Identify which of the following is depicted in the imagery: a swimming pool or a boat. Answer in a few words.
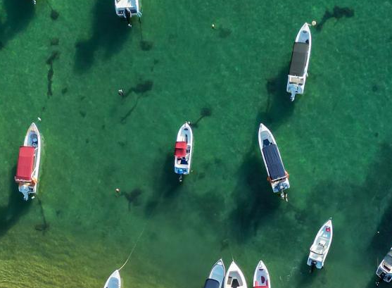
boat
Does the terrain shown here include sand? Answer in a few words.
Yes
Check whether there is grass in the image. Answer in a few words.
No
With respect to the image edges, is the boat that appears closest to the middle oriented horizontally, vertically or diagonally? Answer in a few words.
vertically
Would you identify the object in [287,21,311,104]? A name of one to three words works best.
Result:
boat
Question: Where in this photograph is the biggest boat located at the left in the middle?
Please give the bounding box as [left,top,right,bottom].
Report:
[16,122,41,203]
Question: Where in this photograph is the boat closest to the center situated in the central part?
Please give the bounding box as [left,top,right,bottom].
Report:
[173,122,193,185]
